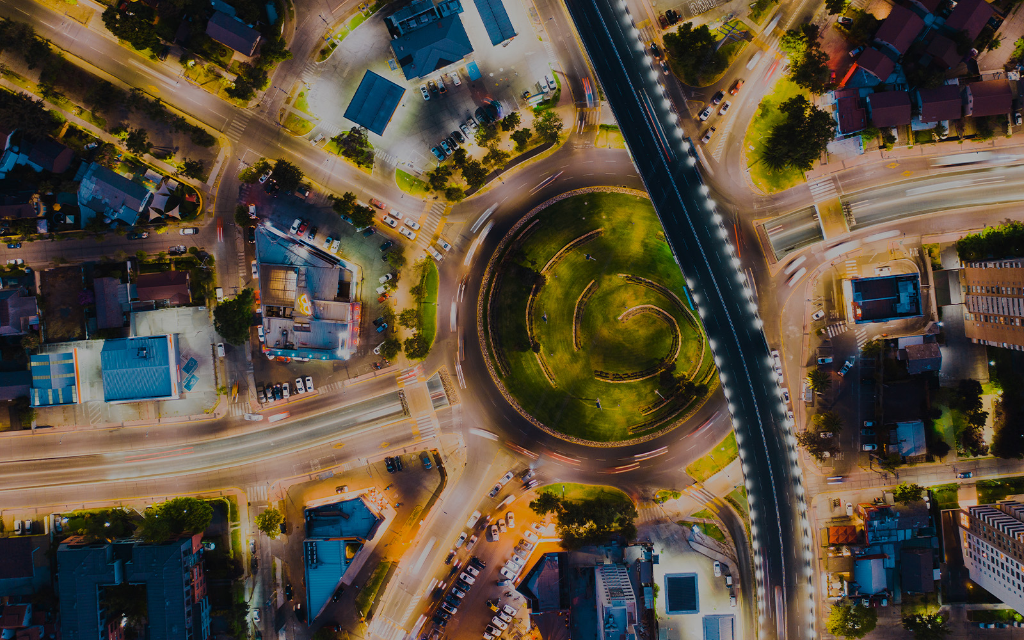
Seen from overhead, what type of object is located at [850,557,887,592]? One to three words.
house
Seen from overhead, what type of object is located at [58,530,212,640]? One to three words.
building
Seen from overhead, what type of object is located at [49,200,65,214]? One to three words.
umbrella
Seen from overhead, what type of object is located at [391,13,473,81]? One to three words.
building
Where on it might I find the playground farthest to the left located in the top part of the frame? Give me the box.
[118,165,157,192]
